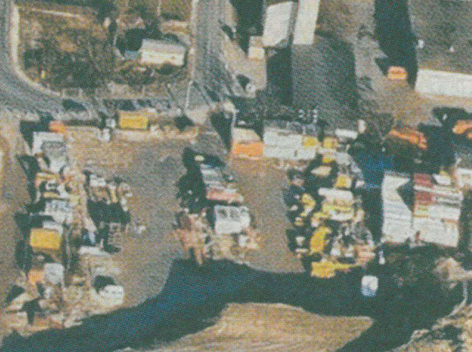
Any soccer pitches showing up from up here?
No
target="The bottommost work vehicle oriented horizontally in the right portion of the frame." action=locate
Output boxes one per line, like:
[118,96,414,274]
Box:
[307,261,362,284]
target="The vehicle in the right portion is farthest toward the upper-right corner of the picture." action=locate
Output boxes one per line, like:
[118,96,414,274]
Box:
[389,65,411,82]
